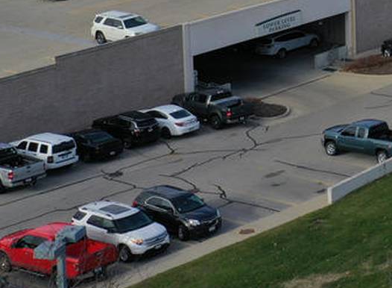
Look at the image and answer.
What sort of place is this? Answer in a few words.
parking lot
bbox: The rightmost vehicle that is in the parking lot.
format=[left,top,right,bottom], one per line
[321,119,392,161]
